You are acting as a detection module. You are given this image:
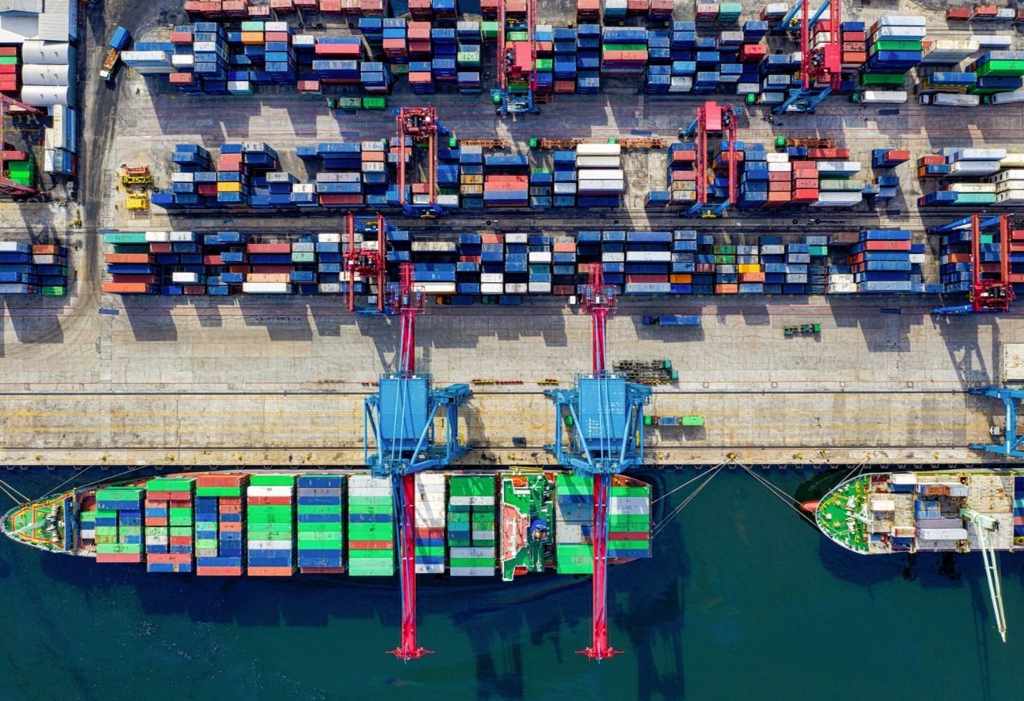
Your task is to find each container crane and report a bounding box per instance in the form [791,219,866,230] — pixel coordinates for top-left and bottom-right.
[673,99,741,225]
[969,390,1024,460]
[533,263,648,665]
[923,214,1017,321]
[394,105,454,224]
[341,214,405,319]
[364,263,478,665]
[0,90,51,201]
[768,0,844,114]
[490,0,542,113]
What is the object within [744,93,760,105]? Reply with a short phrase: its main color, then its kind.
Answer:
green vehicle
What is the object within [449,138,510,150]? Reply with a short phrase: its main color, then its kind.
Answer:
green vehicle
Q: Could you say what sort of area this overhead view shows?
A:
port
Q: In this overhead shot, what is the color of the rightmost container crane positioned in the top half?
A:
red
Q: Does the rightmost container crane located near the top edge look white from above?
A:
No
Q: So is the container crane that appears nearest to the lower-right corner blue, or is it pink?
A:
blue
